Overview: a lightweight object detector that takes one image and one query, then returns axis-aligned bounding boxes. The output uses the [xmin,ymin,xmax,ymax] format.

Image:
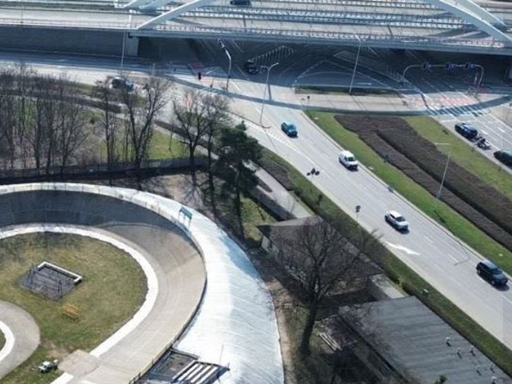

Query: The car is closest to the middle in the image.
[279,117,298,133]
